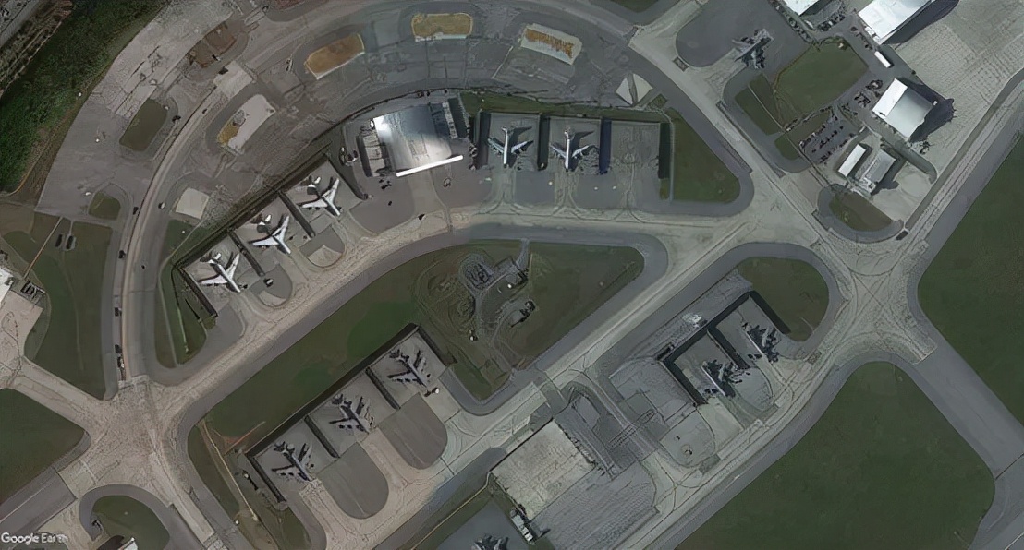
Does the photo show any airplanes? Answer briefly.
Yes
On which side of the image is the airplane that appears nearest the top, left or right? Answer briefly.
right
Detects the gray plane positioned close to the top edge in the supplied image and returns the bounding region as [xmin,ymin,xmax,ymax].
[735,24,772,60]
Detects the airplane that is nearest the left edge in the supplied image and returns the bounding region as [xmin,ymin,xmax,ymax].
[201,253,239,292]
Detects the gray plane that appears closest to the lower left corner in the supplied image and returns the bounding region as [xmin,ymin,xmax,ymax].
[273,444,310,482]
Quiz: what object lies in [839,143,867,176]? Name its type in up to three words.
building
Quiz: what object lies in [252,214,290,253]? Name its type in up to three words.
airplane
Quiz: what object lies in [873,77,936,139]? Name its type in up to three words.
hangar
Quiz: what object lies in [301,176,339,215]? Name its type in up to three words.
airplane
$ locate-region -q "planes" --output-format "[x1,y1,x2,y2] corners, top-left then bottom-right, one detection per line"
[273,444,310,482]
[201,253,239,292]
[692,359,727,396]
[487,128,525,167]
[331,395,369,433]
[389,349,427,387]
[733,321,767,359]
[548,131,587,170]
[735,24,772,60]
[252,214,290,253]
[301,176,339,215]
